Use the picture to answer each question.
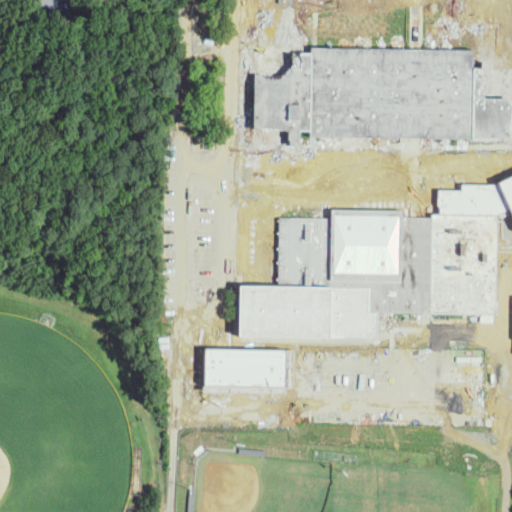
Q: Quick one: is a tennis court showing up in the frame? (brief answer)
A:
No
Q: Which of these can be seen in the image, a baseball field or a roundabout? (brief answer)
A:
baseball field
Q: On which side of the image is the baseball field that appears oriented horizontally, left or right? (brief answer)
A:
right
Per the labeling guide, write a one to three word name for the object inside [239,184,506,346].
building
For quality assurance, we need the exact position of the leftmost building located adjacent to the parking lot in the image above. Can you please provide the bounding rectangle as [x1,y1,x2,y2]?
[203,348,288,394]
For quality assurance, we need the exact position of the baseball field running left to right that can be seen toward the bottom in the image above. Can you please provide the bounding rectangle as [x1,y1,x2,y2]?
[195,453,500,512]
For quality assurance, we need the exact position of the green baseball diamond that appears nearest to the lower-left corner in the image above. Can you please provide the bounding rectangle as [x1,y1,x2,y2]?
[0,314,131,512]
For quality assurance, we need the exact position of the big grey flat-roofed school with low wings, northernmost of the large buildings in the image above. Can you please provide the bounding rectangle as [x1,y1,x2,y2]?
[254,49,512,148]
